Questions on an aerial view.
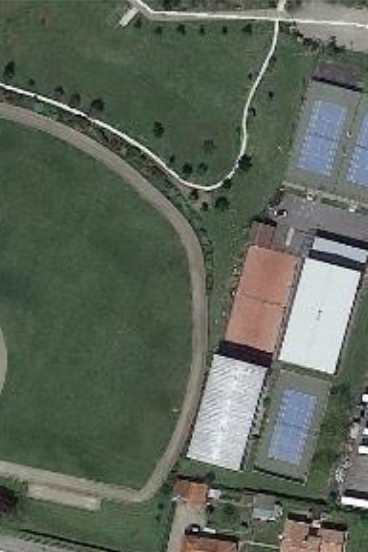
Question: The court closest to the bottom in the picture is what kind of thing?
tennis court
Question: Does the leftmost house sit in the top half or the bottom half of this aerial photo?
bottom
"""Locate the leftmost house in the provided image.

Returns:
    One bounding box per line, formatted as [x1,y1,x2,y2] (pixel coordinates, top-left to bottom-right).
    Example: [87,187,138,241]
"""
[174,480,207,502]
